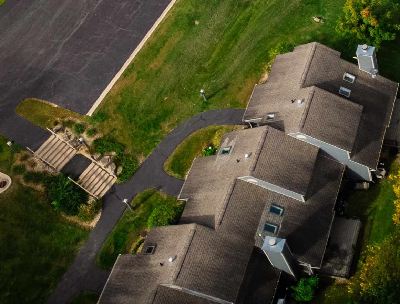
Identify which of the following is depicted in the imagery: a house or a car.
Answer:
house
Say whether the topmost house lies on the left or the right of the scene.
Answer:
right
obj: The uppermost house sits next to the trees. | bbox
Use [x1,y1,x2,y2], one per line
[240,43,399,181]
